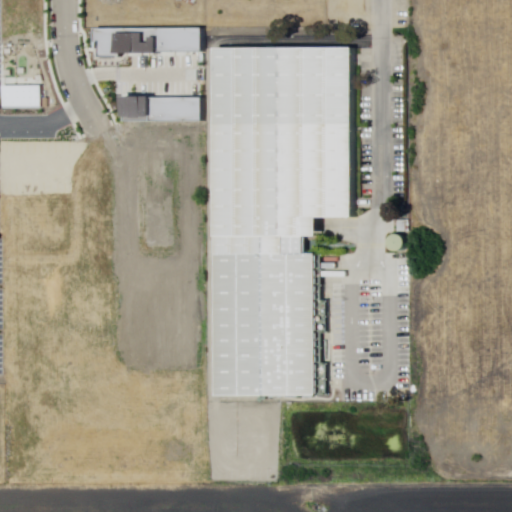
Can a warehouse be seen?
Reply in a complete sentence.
Yes, there is a warehouse in the image.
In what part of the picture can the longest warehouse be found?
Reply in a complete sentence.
You can find the longest warehouse in the center area of the picture.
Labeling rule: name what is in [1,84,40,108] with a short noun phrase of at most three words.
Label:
building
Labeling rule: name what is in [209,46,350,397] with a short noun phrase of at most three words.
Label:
warehouse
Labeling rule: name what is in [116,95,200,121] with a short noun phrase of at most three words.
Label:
building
